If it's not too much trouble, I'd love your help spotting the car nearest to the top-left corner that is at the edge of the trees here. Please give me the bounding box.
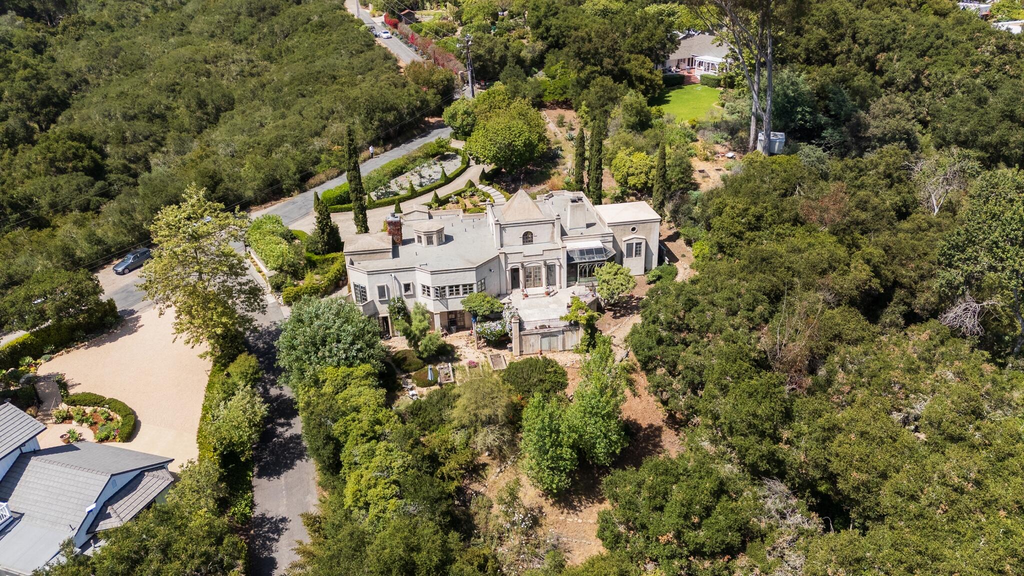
[105,246,158,276]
